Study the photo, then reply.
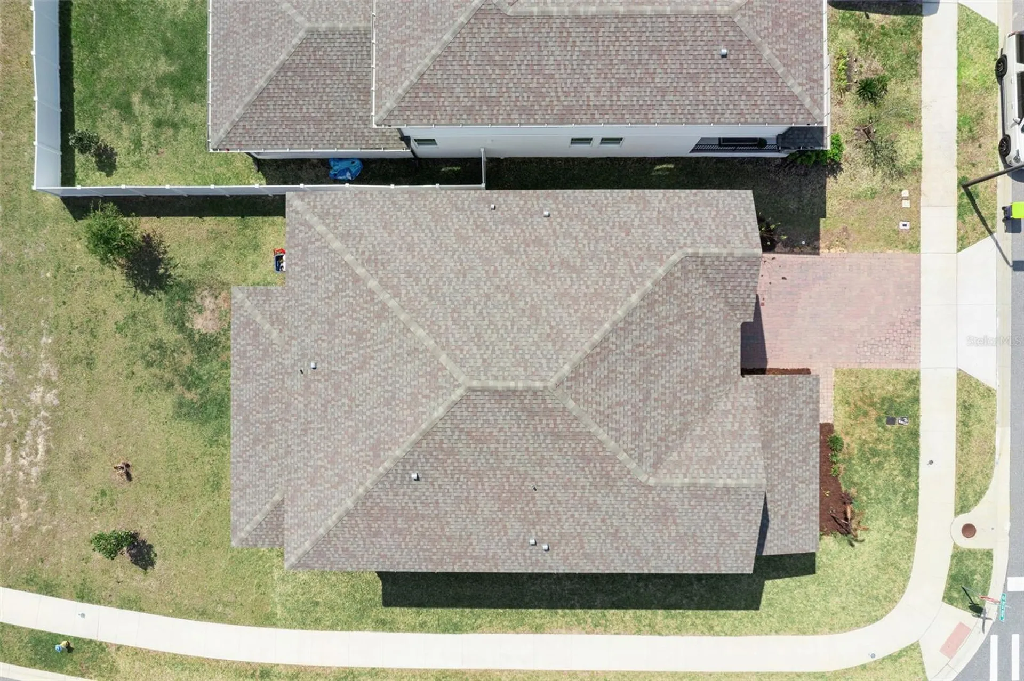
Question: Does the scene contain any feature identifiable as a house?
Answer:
Yes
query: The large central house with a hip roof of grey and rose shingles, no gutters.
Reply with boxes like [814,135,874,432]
[228,187,819,574]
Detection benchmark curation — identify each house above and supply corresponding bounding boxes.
[206,0,830,158]
[228,187,819,574]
